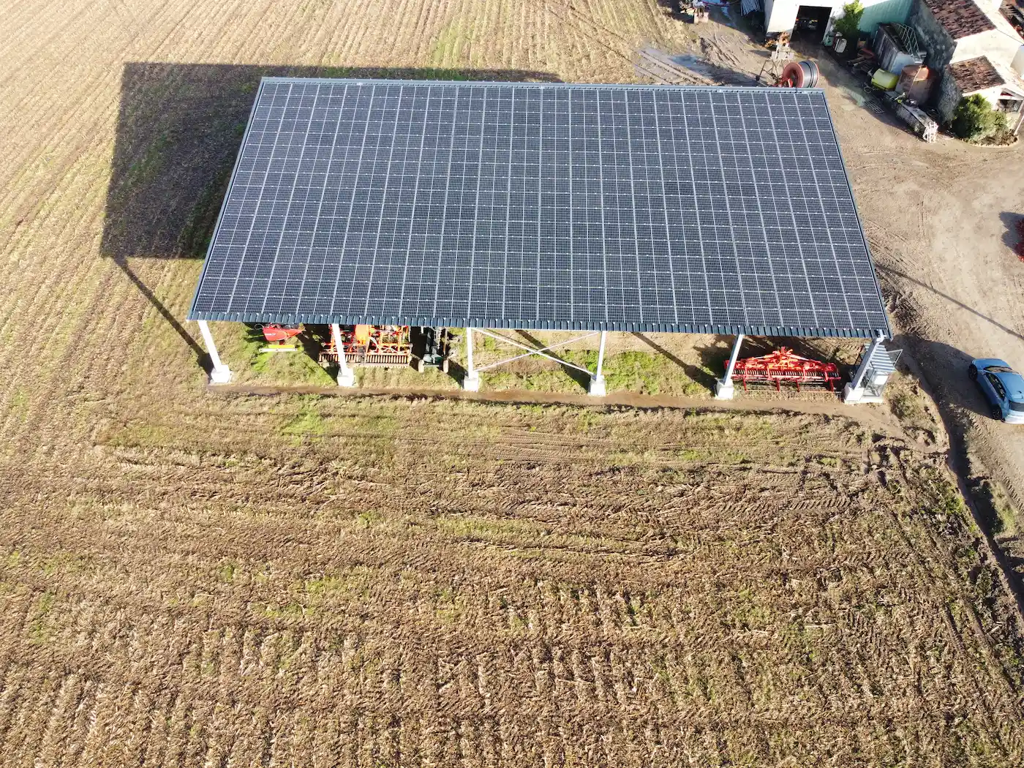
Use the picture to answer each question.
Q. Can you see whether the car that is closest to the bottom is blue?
Yes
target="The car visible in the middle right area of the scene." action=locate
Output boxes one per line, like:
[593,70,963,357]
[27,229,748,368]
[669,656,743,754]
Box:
[970,360,1024,425]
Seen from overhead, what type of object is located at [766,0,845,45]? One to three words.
barn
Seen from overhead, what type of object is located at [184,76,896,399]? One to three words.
hangar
